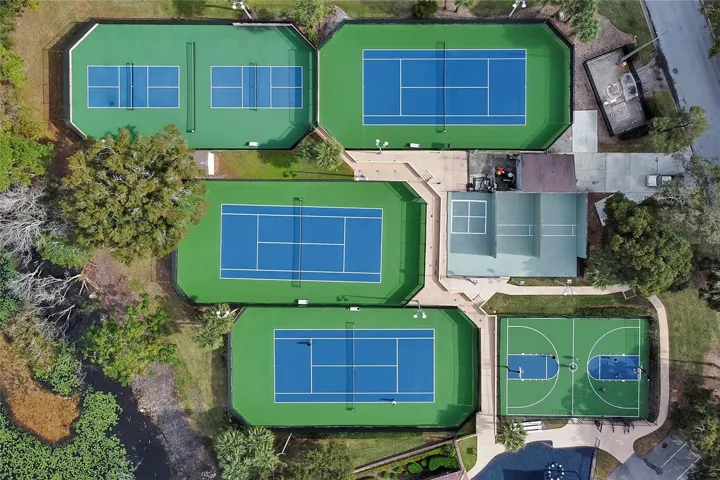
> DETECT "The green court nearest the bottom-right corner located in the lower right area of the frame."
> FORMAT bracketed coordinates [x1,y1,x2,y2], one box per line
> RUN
[500,316,648,418]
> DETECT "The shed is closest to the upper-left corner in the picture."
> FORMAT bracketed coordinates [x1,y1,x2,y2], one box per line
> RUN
[191,150,214,174]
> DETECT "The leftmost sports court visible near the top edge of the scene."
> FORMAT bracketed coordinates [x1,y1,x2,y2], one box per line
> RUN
[71,24,317,149]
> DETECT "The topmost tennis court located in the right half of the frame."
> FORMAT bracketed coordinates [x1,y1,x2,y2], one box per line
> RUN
[319,22,571,150]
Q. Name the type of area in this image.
sports ground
